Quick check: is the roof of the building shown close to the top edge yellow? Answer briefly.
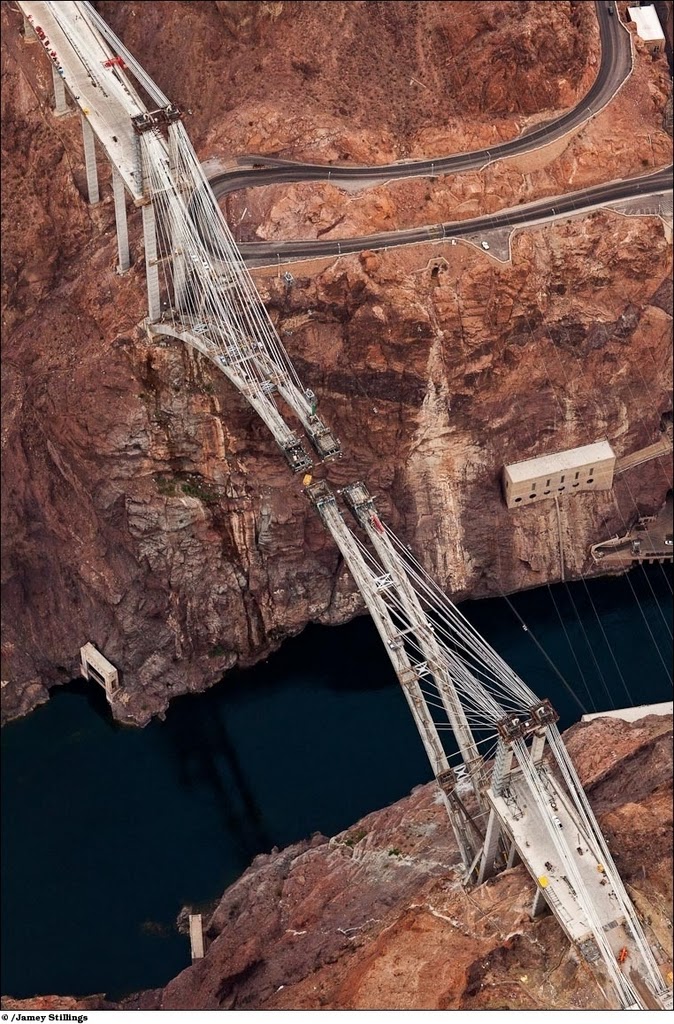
No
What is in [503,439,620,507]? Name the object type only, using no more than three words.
building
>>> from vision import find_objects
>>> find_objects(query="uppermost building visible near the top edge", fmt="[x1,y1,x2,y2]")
[625,4,666,56]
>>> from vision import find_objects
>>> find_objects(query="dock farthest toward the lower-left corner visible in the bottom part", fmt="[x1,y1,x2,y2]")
[188,917,203,963]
